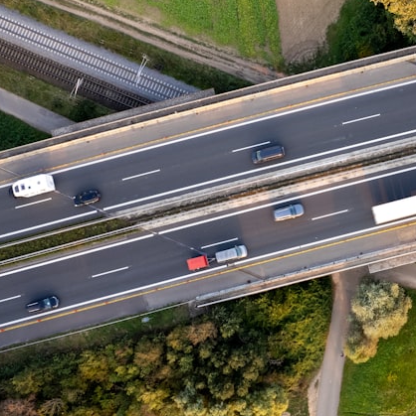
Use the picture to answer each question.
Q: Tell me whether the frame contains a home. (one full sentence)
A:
No, I can see no home in this picture.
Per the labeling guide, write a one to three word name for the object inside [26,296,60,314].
car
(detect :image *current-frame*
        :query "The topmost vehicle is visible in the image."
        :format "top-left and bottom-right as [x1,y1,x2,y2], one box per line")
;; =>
[253,145,286,163]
